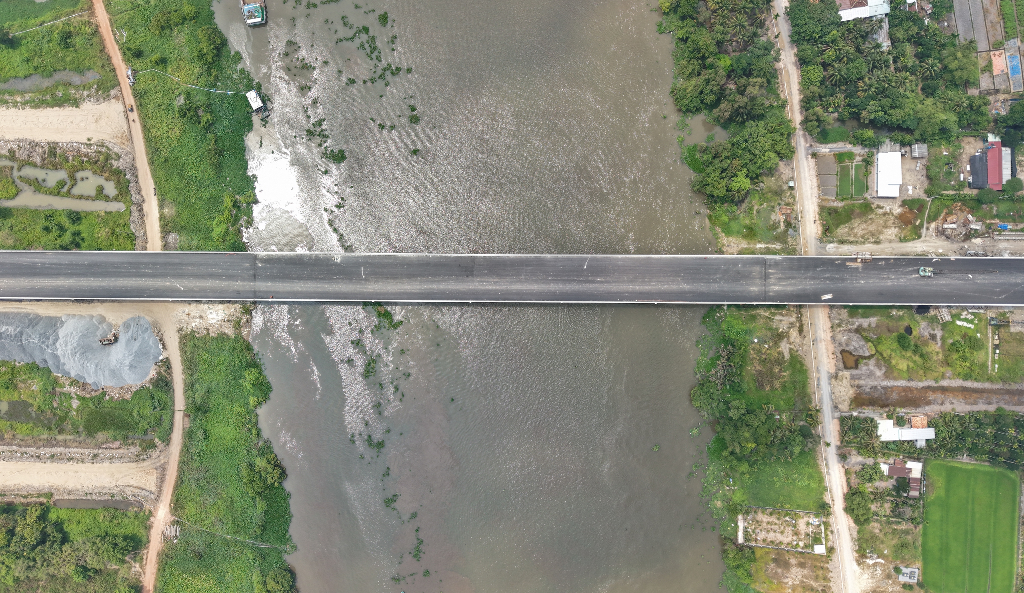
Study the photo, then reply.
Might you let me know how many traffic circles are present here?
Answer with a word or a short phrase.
none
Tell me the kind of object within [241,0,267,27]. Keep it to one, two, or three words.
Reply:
ship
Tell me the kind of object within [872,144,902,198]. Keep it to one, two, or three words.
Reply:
house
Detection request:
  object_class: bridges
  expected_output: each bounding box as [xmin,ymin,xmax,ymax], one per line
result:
[0,251,1024,306]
